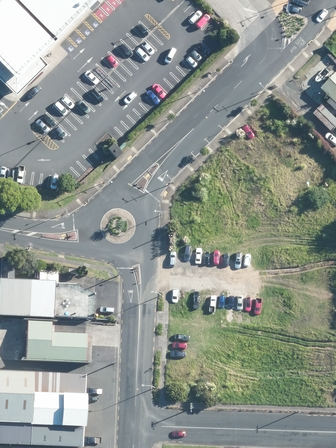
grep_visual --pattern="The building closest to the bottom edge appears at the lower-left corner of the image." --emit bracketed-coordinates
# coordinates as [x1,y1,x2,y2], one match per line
[0,422,86,446]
